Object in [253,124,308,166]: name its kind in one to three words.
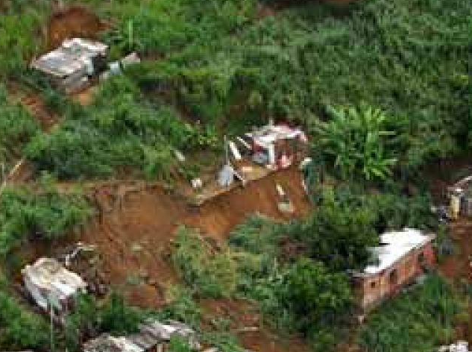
house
